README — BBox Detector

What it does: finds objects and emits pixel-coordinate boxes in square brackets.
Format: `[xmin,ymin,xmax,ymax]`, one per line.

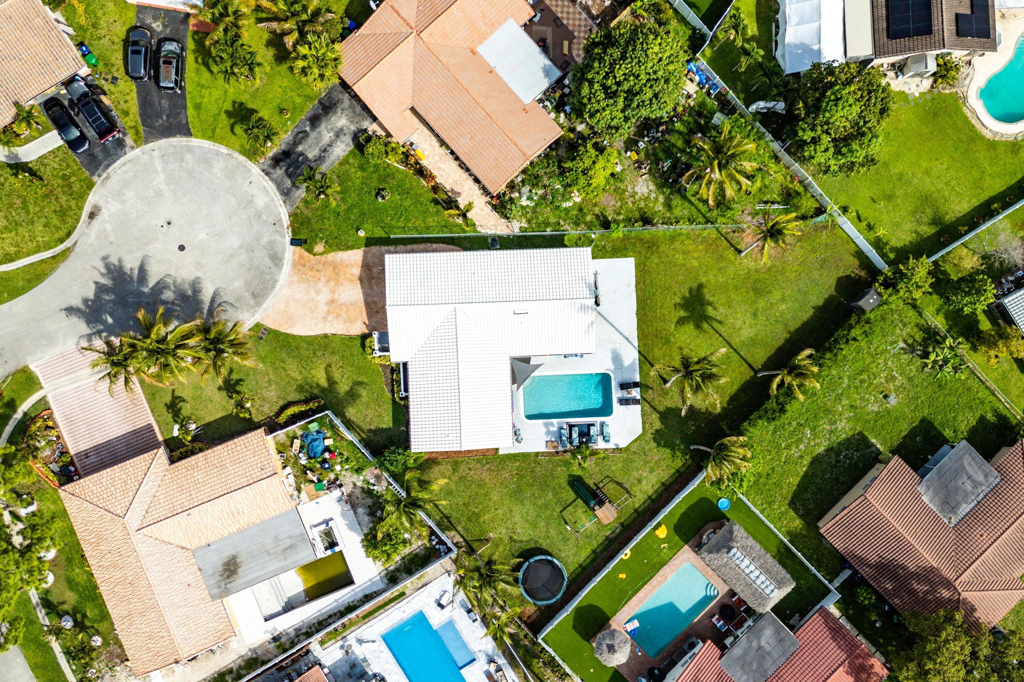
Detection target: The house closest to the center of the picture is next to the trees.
[373,247,595,452]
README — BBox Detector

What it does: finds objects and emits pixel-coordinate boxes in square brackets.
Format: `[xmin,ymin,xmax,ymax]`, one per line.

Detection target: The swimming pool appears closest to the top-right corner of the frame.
[975,30,1024,126]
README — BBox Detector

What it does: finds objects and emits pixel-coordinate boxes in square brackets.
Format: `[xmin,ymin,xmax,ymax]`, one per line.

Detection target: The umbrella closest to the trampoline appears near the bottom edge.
[590,624,633,667]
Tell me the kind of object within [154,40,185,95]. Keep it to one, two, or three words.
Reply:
car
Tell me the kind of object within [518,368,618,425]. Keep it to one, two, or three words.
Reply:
swimming pool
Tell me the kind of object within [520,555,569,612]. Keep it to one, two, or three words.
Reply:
trampoline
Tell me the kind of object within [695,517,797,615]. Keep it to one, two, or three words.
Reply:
shed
